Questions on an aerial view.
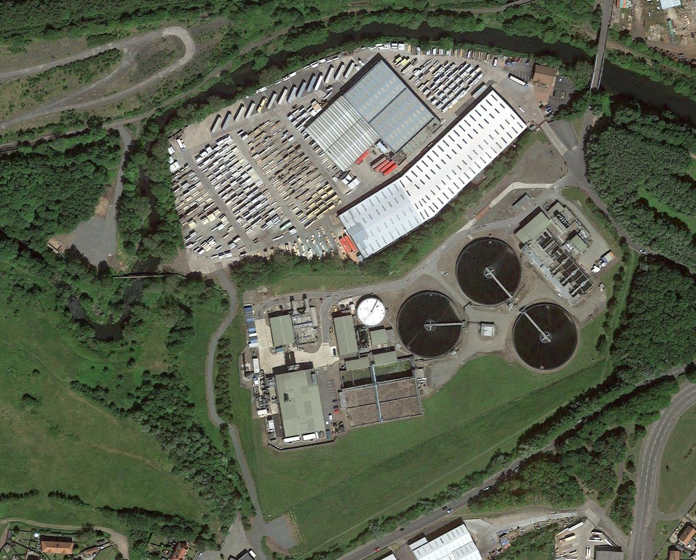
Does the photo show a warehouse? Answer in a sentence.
Yes, a warehouse appears in the view.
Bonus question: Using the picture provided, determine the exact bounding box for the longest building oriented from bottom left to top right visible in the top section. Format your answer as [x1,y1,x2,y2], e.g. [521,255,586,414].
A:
[338,89,527,260]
